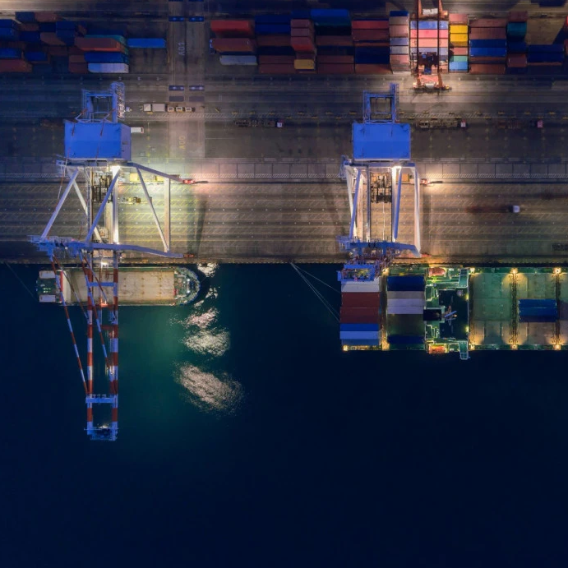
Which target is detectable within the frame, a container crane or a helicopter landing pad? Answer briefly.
container crane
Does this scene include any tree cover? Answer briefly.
No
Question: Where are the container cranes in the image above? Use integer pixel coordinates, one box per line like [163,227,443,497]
[407,0,452,93]
[32,76,195,440]
[330,76,434,291]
